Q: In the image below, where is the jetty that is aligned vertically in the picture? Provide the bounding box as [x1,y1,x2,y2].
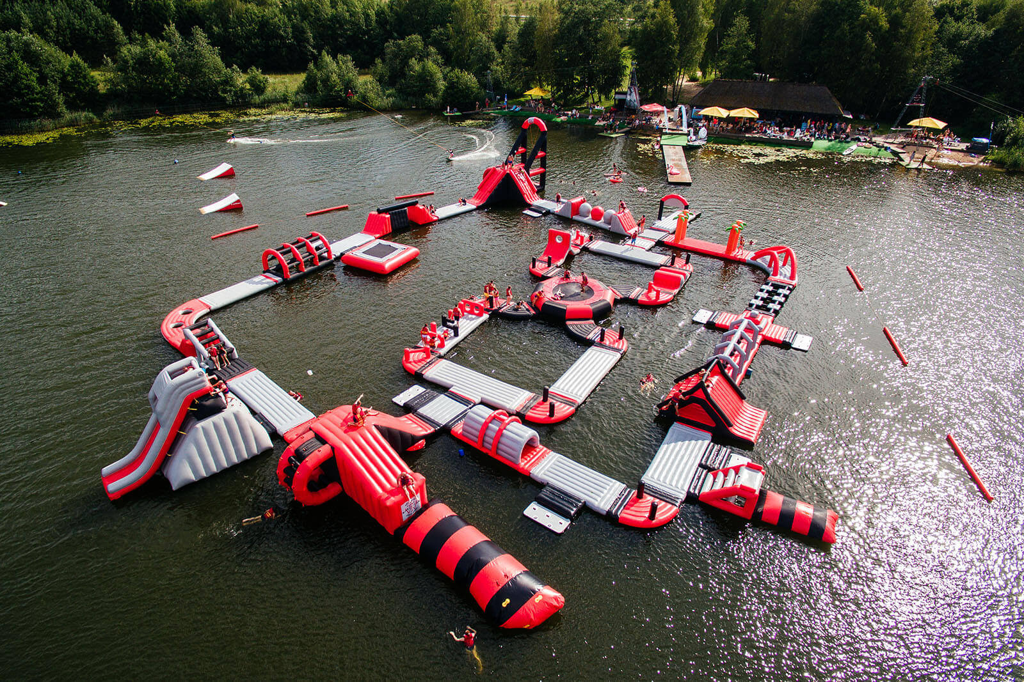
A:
[661,131,692,188]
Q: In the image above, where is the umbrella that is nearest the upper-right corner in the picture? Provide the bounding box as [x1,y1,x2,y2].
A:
[906,117,963,131]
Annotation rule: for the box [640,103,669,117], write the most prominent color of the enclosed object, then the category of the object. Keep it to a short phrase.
red umbrella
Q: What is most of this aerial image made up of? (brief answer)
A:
water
